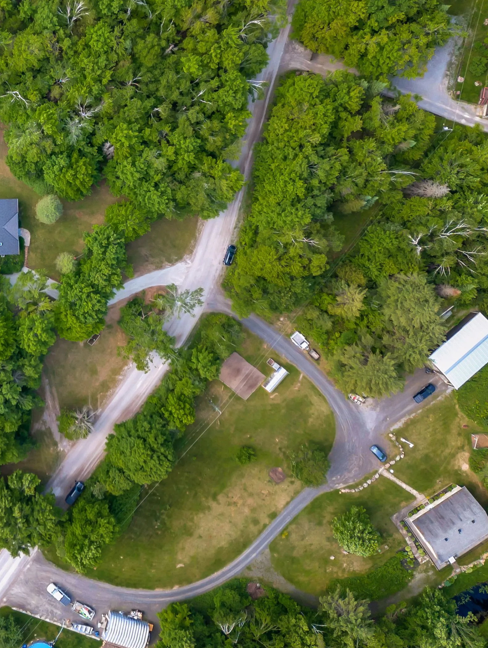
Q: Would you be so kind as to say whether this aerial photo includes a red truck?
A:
No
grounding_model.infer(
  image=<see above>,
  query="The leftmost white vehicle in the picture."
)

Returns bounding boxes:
[47,583,72,611]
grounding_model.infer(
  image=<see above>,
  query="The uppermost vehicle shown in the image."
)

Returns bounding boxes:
[221,244,236,266]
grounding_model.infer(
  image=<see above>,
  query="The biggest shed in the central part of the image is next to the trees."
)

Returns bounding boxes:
[215,352,267,400]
